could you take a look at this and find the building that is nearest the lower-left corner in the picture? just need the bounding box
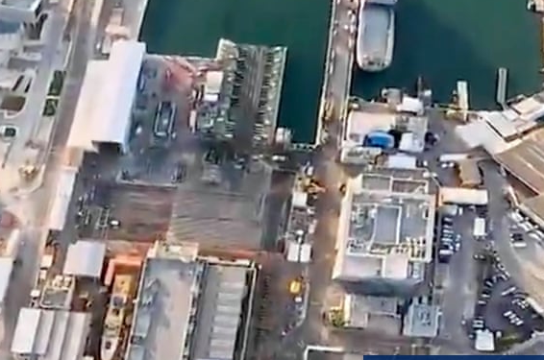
[11,307,42,360]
